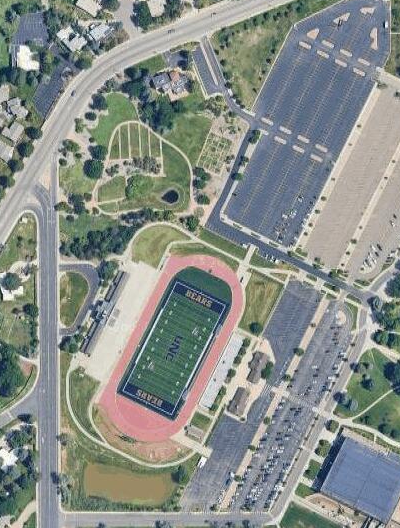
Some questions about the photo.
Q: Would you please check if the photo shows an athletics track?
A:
Yes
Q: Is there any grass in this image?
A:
Yes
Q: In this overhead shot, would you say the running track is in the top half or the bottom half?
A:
bottom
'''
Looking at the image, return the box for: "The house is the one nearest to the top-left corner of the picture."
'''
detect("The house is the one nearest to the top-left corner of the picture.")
[17,46,38,73]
